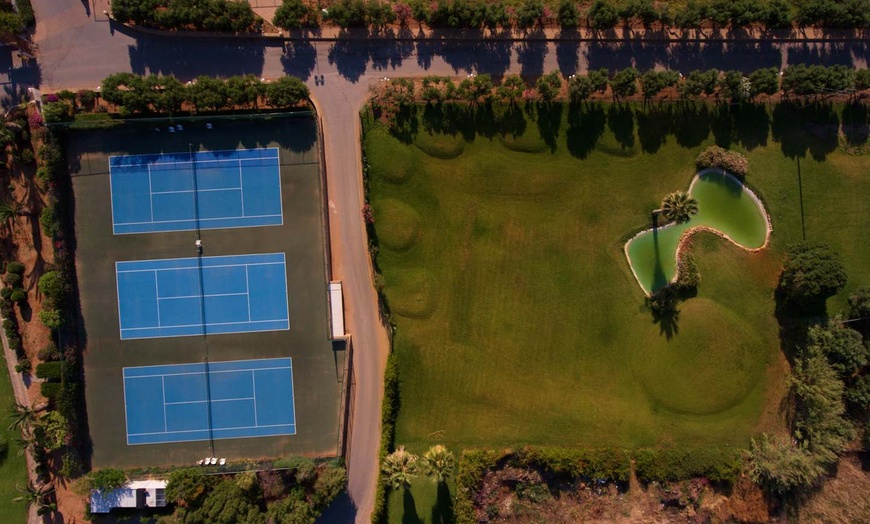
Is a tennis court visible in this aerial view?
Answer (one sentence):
Yes, the frame does contain a tennis court.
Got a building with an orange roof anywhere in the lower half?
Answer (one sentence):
No, looking in the lower half, there is no building with an orange roof.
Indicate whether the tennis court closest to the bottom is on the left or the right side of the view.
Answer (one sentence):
The tennis court closest to the bottom is on the left side of the image.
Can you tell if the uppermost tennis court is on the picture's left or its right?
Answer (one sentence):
The uppermost tennis court is on the left side of the image.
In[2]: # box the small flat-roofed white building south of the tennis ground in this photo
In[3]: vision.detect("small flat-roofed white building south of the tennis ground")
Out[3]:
[91,480,173,514]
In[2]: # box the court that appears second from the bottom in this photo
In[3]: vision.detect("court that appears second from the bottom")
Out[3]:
[116,251,289,342]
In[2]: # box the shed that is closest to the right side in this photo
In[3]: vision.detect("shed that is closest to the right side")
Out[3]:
[329,280,353,339]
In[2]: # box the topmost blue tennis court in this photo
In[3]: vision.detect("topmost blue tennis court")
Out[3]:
[109,144,283,236]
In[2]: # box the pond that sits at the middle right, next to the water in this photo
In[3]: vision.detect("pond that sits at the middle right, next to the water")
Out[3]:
[625,168,771,298]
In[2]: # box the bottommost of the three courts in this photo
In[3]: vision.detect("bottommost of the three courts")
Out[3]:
[123,356,296,448]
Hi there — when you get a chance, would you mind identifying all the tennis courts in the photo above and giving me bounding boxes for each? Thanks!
[109,144,283,236]
[123,356,296,448]
[116,251,289,342]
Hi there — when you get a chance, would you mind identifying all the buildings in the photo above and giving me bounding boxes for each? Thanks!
[329,280,353,339]
[91,480,173,514]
